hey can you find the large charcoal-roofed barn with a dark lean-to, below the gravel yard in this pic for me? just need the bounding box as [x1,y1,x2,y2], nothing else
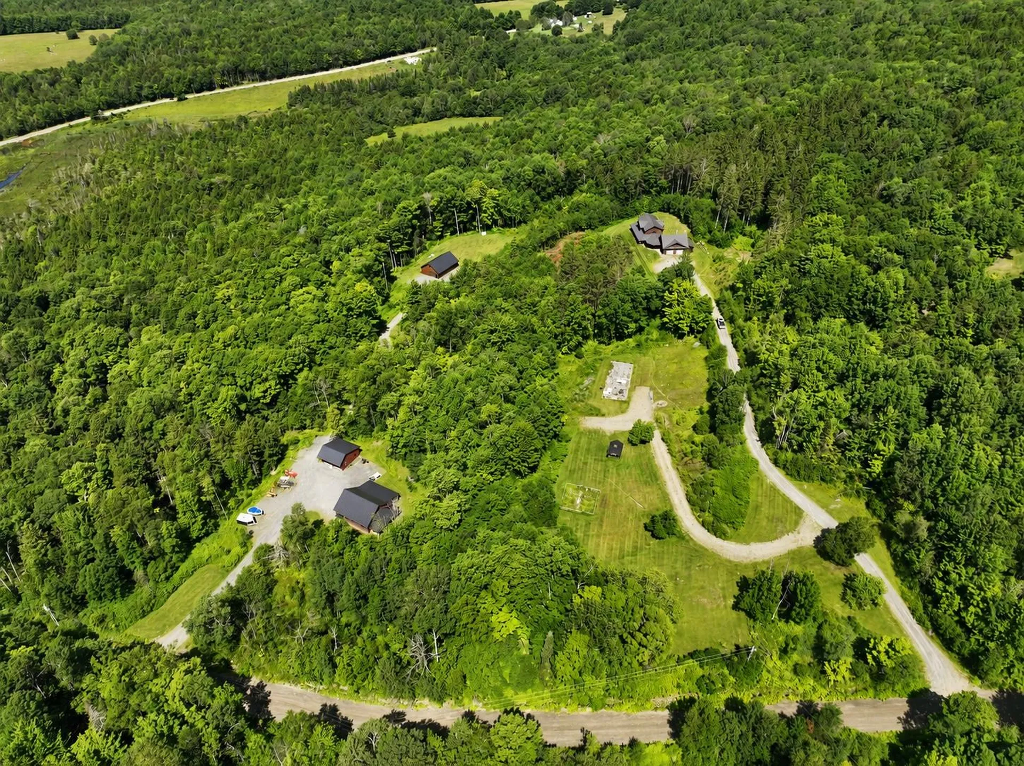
[333,480,401,535]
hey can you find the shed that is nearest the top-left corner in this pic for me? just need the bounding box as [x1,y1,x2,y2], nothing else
[422,252,459,280]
